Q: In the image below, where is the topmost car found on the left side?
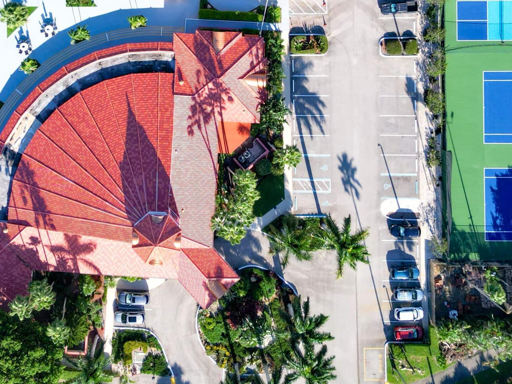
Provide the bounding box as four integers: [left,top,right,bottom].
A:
[118,291,150,306]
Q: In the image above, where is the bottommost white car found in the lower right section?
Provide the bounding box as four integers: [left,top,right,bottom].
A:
[394,306,424,323]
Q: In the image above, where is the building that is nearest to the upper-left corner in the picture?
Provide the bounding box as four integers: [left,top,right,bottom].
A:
[0,30,268,318]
